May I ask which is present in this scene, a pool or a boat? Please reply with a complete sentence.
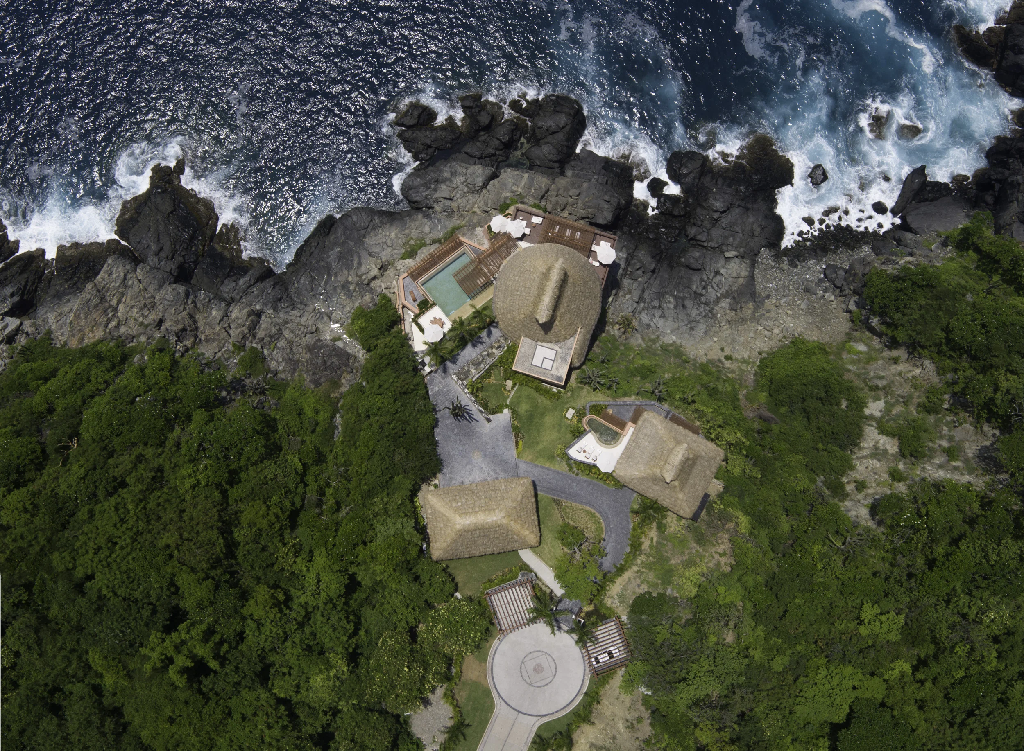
There is a pool in the scene.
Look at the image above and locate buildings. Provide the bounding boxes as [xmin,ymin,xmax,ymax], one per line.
[491,242,603,391]
[610,408,726,521]
[423,476,543,562]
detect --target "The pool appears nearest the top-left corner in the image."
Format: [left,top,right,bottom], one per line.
[415,244,494,321]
